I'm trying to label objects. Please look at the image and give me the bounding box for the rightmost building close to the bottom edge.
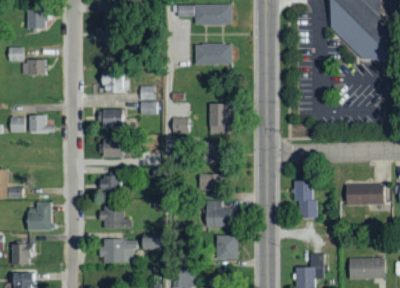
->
[350,258,386,282]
